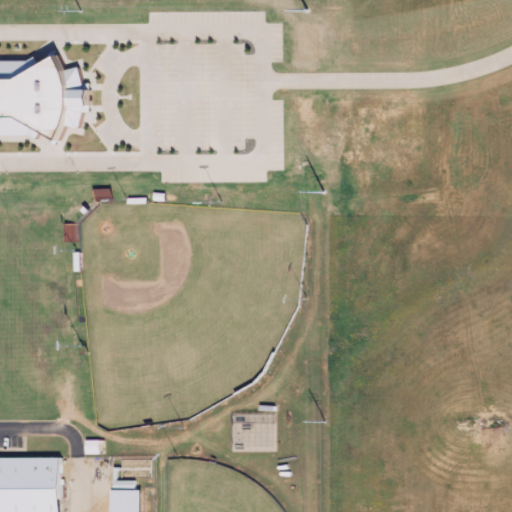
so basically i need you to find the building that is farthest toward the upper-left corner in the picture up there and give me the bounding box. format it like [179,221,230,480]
[0,56,93,140]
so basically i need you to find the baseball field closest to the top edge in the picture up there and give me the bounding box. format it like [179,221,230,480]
[76,203,306,430]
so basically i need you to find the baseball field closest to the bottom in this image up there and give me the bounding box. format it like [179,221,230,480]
[168,458,276,512]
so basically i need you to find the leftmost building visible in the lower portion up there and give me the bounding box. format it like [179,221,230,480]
[0,458,62,512]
